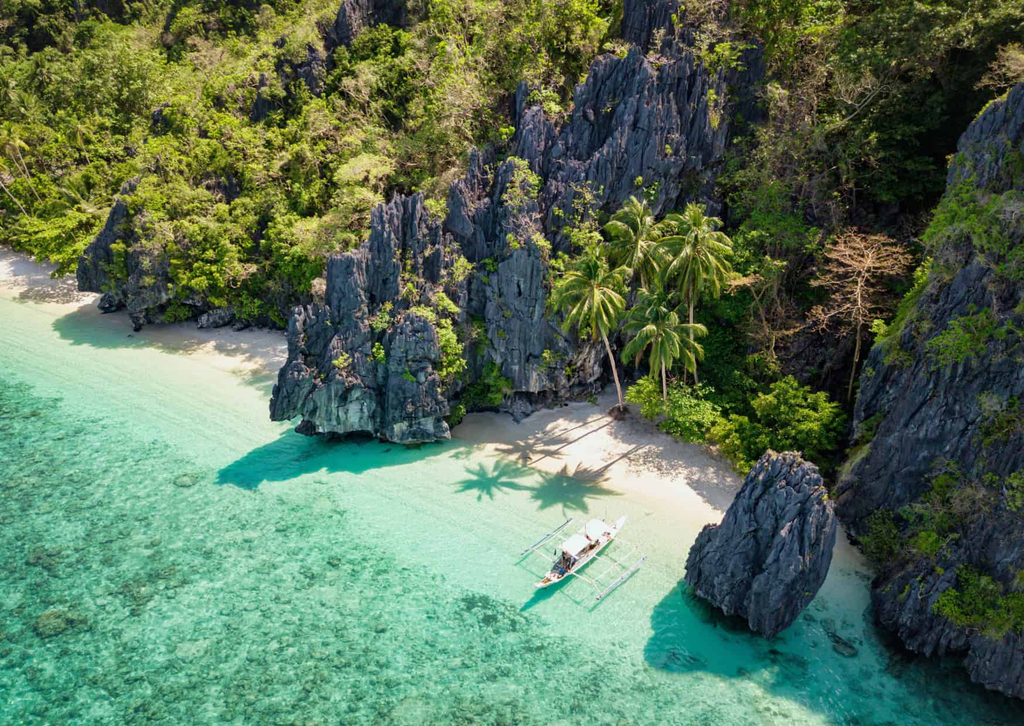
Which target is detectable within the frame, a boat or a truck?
boat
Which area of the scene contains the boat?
bottom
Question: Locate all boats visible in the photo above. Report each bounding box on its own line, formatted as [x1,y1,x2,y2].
[519,492,650,599]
